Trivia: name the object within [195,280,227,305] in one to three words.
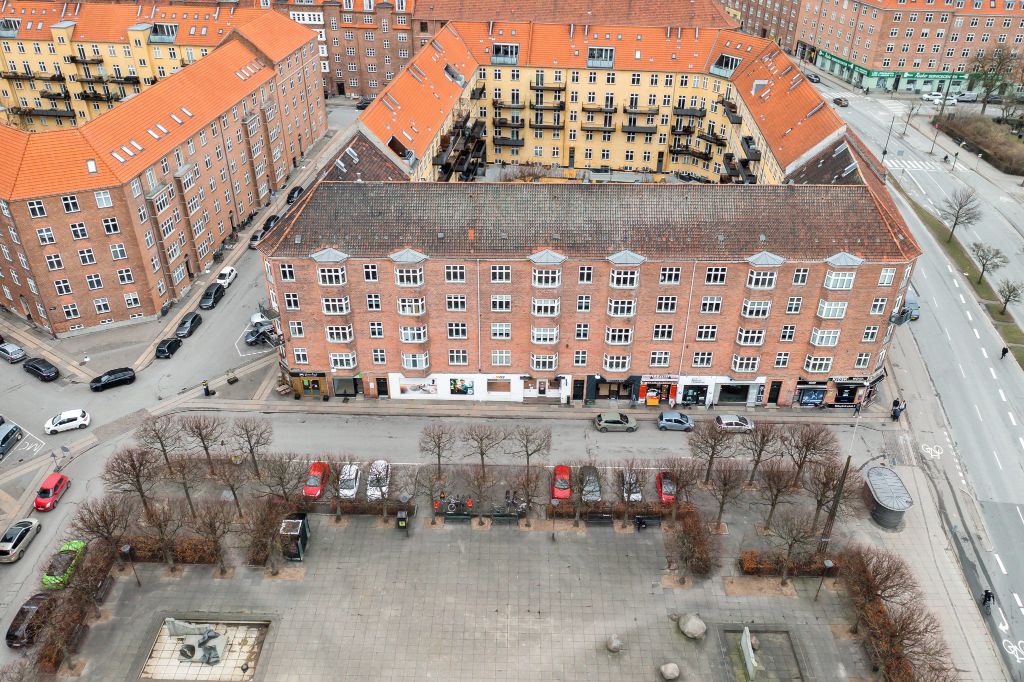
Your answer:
car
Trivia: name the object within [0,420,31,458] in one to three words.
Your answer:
car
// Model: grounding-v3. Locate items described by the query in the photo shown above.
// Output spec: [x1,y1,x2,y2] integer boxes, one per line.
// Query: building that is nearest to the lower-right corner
[857,468,916,536]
